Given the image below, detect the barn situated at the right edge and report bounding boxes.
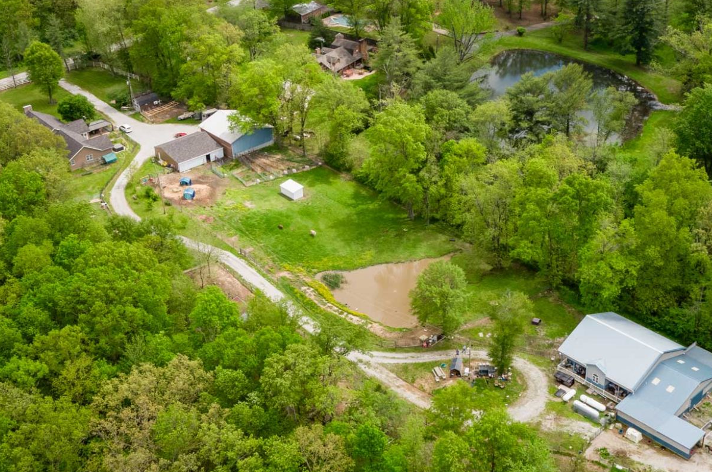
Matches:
[555,311,712,459]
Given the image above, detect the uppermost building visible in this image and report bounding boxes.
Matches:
[287,3,337,21]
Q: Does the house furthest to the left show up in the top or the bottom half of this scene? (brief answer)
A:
top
